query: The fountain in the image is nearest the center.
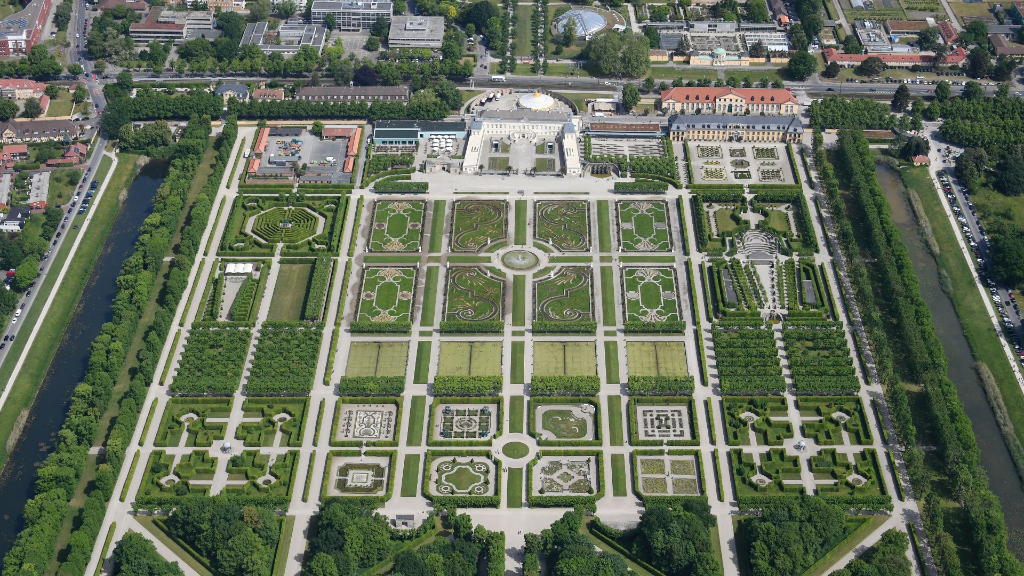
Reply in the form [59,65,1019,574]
[501,249,538,269]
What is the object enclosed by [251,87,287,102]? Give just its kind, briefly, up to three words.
house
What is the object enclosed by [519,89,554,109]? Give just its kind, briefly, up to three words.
tent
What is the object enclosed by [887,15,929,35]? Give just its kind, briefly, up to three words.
building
